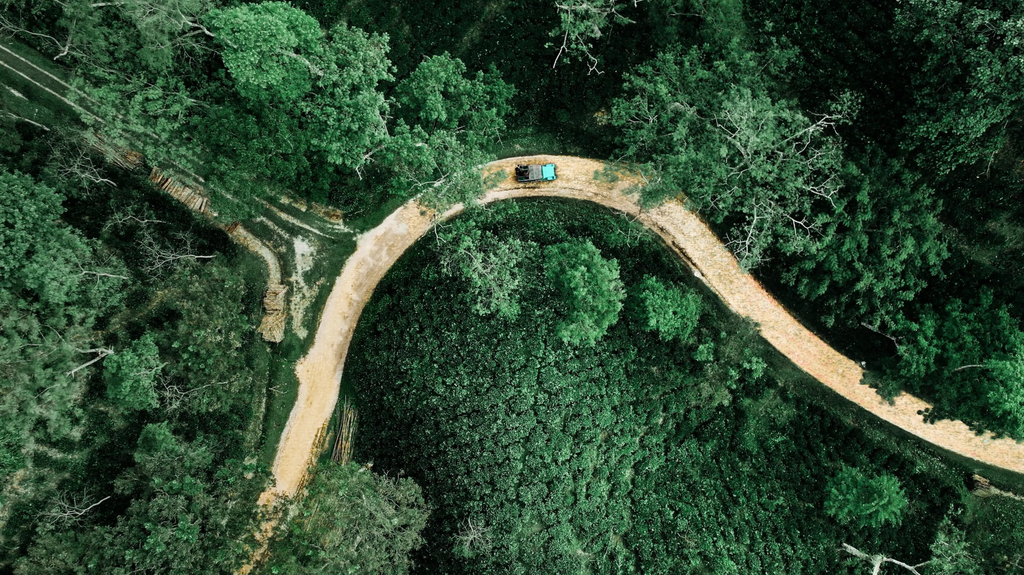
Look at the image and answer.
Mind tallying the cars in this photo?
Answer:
1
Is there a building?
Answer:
No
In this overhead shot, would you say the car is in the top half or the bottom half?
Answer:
top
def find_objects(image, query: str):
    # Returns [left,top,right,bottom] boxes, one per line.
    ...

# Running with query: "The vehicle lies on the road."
[515,161,558,181]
